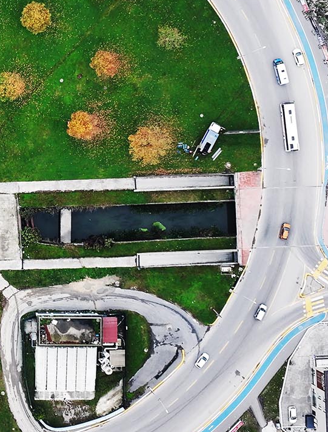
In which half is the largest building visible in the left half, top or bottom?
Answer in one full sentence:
It is in the bottom half that the largest building visible in the left half appears.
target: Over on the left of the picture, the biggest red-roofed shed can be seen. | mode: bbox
[102,316,117,343]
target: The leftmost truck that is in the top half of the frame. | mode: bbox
[194,121,223,156]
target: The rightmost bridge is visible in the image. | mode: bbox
[232,172,262,269]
